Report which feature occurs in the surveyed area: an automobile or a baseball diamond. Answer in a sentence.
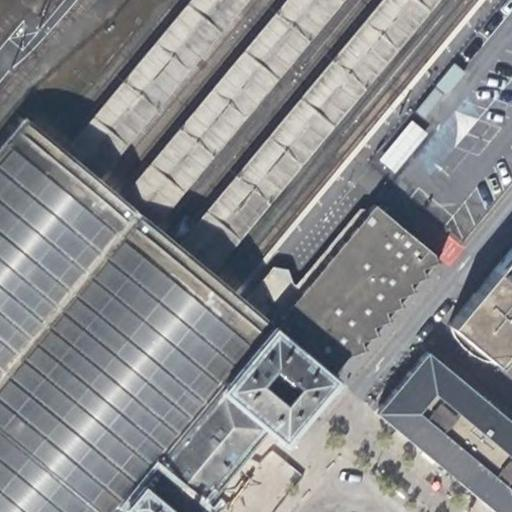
The one in the frame is an automobile.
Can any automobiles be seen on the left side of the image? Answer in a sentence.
No, there's no automobile to be seen on the left side of the image.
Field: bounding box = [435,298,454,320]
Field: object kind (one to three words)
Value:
car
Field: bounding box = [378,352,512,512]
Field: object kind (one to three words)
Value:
building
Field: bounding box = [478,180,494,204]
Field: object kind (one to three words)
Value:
car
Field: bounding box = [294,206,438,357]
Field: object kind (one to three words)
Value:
building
